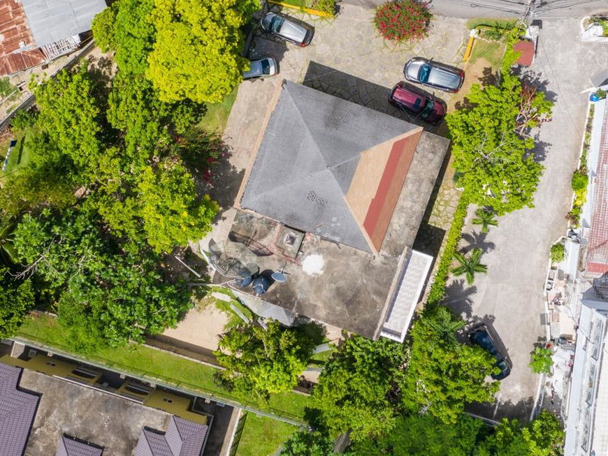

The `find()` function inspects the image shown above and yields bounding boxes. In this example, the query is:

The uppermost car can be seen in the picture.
[260,12,315,48]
